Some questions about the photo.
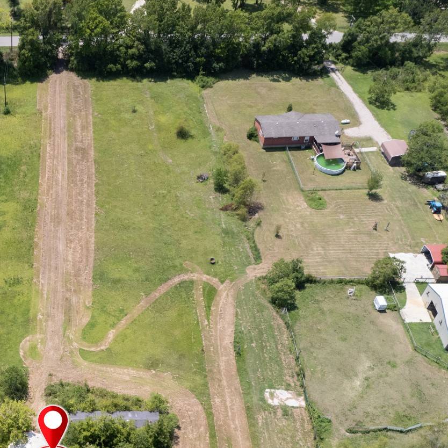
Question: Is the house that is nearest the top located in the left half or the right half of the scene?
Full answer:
The house that is nearest the top sits on the right side.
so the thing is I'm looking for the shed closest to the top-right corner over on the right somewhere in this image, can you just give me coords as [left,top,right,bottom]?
[377,136,411,167]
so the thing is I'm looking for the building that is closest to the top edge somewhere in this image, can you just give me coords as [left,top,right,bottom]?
[257,104,343,150]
